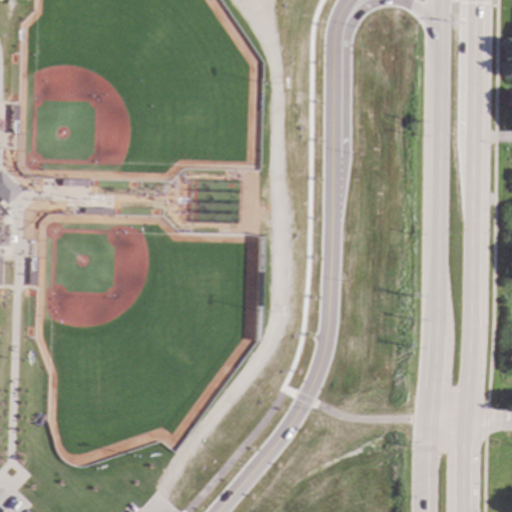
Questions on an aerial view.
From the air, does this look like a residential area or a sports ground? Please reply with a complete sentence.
What you see here is a sports ground.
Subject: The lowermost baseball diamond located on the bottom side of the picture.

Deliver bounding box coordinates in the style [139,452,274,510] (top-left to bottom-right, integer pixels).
[38,212,262,467]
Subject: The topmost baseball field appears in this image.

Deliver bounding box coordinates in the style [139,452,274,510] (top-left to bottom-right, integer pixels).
[17,0,263,182]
